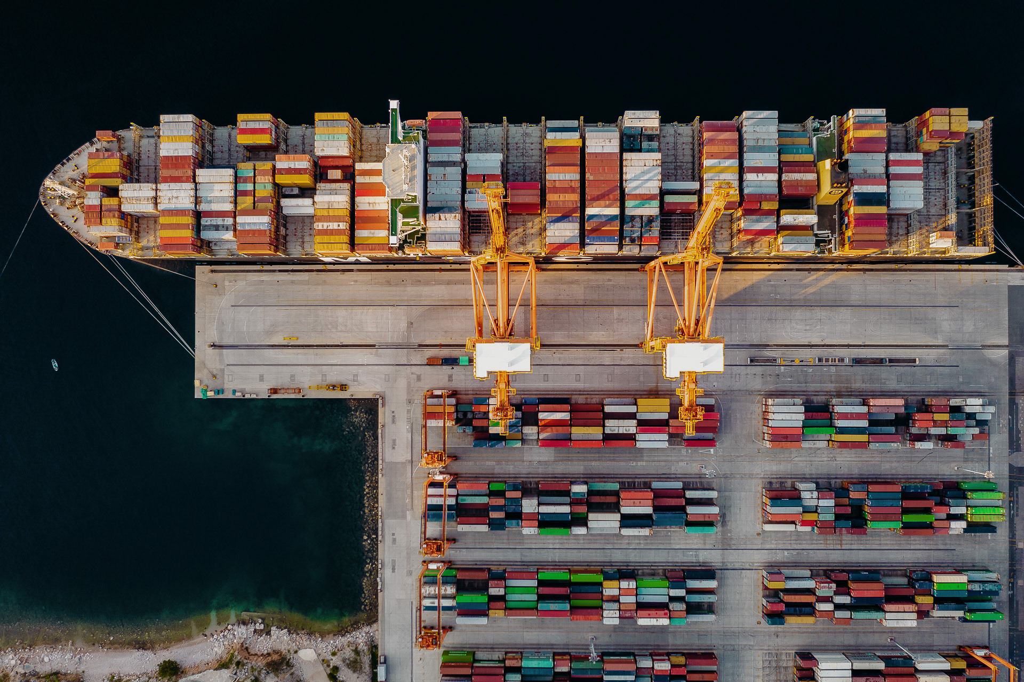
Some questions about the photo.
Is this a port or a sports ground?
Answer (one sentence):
It's a port.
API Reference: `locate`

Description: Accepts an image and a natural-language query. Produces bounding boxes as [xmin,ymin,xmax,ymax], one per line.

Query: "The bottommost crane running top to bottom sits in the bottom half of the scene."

[411,562,454,654]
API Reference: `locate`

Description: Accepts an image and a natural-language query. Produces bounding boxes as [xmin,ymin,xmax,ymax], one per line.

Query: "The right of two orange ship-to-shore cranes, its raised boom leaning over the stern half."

[631,185,739,439]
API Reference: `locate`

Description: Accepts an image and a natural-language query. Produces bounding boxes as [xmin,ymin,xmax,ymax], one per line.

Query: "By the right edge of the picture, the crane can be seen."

[961,648,1021,682]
